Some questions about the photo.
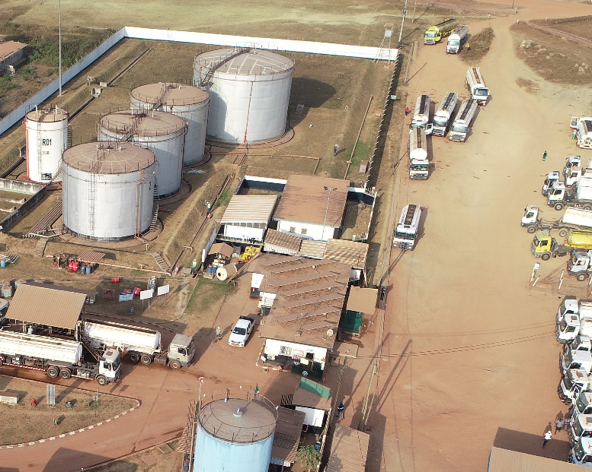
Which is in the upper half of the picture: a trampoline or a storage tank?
storage tank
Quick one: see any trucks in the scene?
Yes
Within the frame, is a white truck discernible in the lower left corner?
Yes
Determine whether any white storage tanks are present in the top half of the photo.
Yes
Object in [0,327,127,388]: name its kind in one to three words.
truck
